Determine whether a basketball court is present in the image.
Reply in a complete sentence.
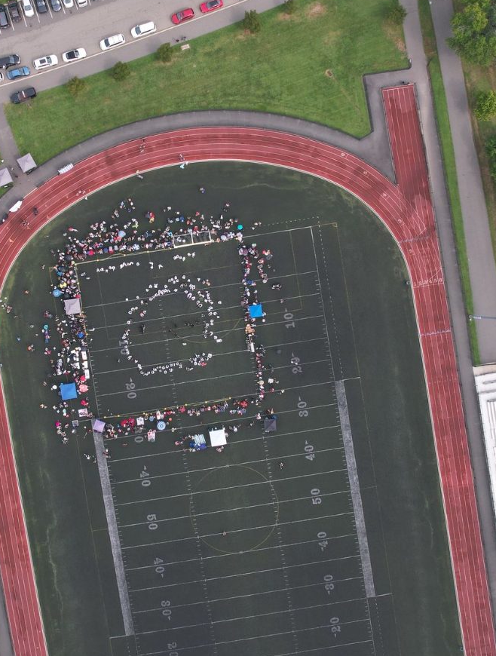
No, there appears to be no basketball court in this shot.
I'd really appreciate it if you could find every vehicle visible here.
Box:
[35,0,48,15]
[7,0,22,27]
[11,88,37,102]
[200,0,224,14]
[7,67,31,80]
[131,21,157,38]
[21,0,34,19]
[62,48,86,62]
[33,55,59,69]
[49,0,61,13]
[171,8,196,25]
[77,0,87,8]
[0,54,21,68]
[61,0,73,9]
[100,34,125,49]
[0,5,9,29]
